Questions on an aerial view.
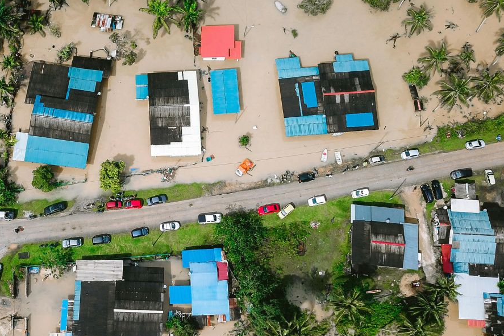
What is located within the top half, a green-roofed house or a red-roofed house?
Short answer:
red-roofed house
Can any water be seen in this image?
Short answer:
Yes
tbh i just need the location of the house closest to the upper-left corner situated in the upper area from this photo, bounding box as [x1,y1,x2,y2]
[13,57,112,170]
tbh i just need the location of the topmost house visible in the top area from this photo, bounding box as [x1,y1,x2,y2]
[200,26,242,63]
